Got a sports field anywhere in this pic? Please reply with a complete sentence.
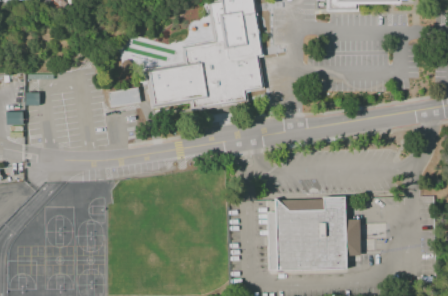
Yes, the photo shows a sports field.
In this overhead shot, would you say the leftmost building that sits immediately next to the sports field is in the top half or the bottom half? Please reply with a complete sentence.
The leftmost building that sits immediately next to the sports field sits in the top half of the picture.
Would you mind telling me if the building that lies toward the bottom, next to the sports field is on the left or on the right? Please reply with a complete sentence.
You can find the building that lies toward the bottom, next to the sports field on the right side of the picture.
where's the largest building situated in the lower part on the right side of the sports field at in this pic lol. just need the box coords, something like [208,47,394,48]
[270,196,348,272]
